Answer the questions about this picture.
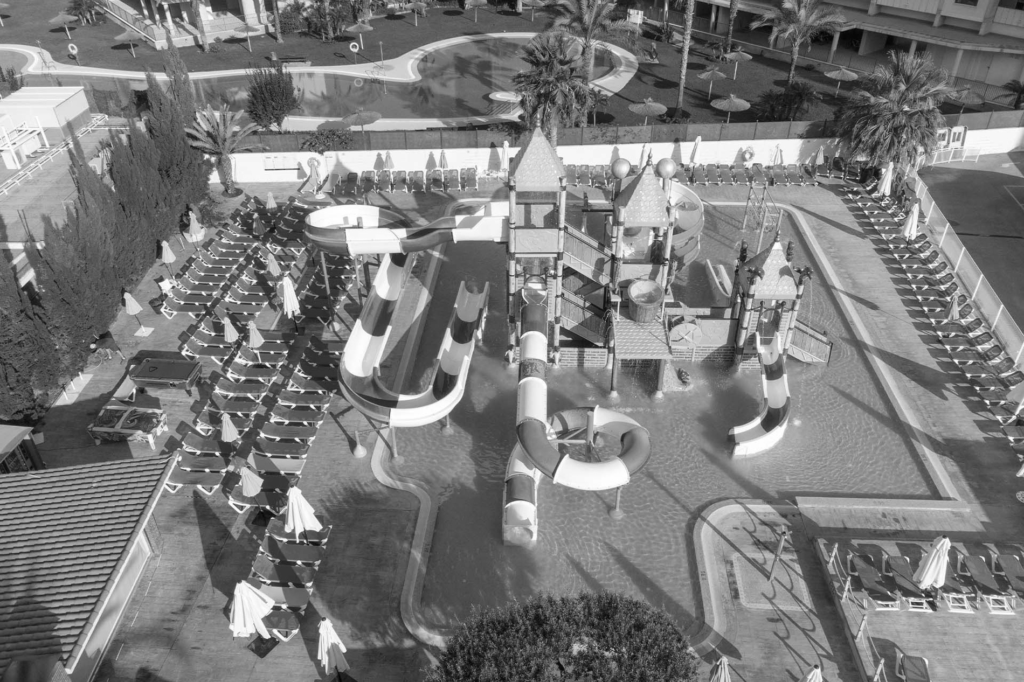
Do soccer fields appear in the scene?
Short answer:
No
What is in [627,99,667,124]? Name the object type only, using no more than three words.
umbrella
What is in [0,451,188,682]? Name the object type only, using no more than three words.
building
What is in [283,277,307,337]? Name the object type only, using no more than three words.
umbrella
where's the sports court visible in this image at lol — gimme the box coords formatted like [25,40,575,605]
[922,168,1024,333]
